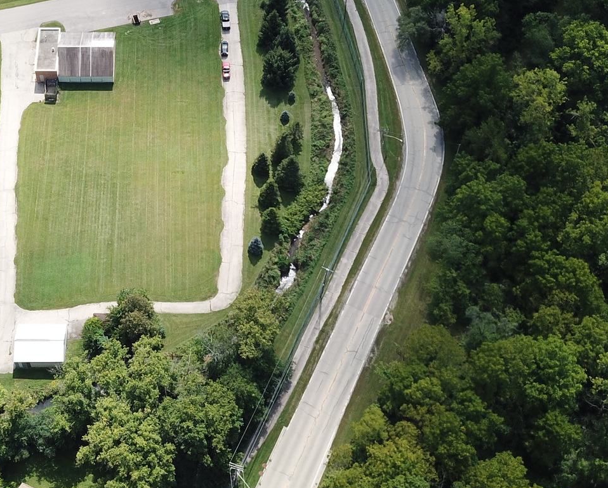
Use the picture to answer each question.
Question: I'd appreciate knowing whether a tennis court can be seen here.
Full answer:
No, there appears to be no tennis court in this shot.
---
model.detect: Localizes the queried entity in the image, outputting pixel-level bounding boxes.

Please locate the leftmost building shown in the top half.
[30,27,62,89]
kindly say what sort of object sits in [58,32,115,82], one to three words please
building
